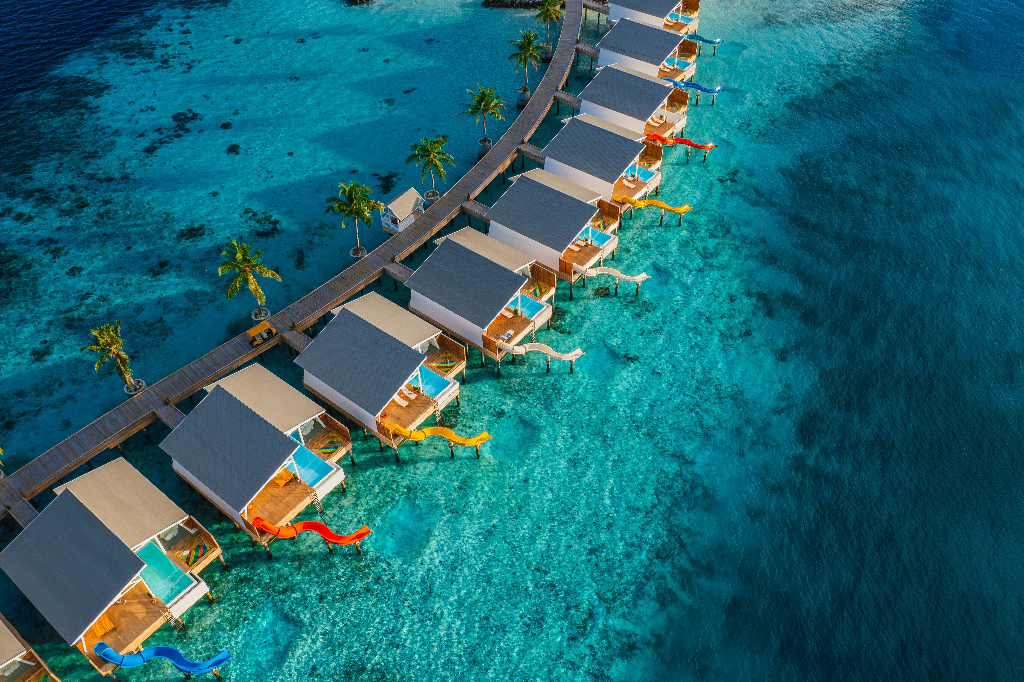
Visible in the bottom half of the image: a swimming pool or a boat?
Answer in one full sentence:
Looking in the bottom half of the image, you will find a swimming pool.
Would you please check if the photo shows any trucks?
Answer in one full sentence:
No, the frame has no truck in it.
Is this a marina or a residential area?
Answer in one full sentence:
The picture captures a residential area.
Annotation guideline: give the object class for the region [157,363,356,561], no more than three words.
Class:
house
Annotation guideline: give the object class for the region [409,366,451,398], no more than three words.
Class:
swimming pool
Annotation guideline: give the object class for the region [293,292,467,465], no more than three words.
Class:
house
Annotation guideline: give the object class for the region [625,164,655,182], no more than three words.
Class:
swimming pool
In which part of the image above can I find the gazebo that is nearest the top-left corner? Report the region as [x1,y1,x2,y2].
[377,184,426,238]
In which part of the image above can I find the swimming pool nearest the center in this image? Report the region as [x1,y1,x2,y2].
[507,293,544,318]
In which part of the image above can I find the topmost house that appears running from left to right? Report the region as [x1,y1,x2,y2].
[606,0,701,42]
